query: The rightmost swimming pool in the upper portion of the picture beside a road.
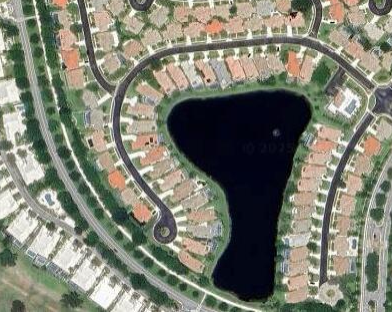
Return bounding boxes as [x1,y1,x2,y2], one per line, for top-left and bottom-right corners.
[331,88,364,118]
